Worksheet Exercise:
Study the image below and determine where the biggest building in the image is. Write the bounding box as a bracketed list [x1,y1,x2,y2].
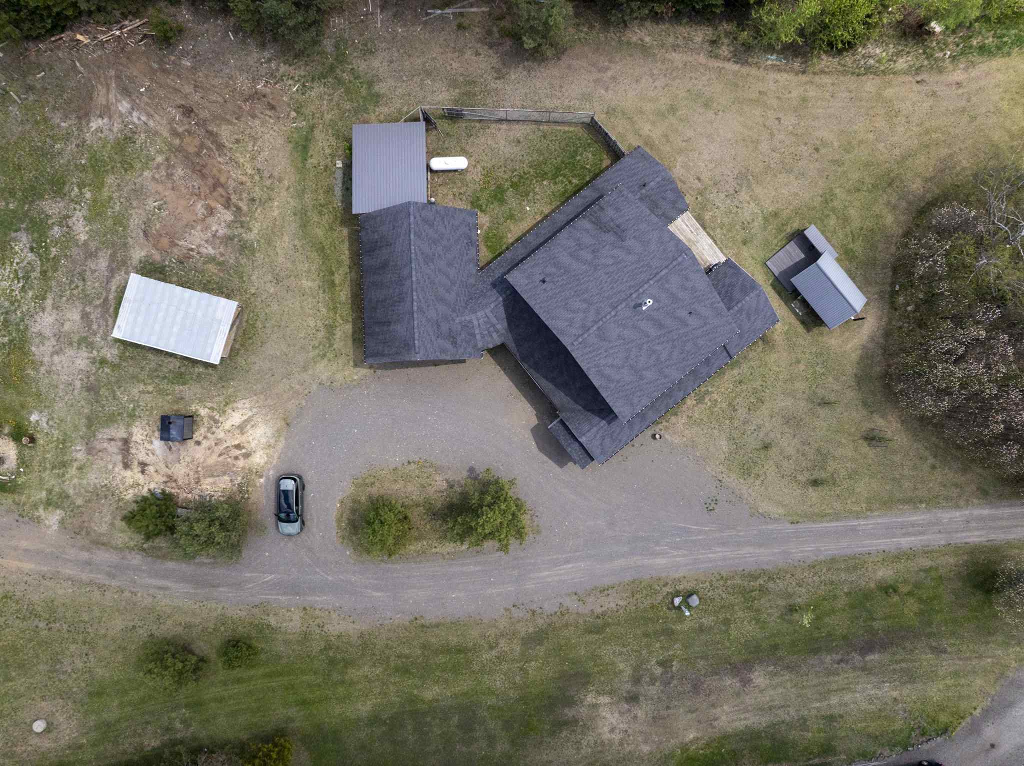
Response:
[358,144,781,469]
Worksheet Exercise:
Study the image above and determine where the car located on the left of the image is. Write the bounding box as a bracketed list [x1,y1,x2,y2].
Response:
[274,473,306,536]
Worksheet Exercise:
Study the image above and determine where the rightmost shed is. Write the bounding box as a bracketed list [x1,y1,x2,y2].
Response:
[789,225,867,330]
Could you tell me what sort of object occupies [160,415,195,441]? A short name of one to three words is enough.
building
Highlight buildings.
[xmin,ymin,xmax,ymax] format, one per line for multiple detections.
[160,415,195,441]
[789,225,867,330]
[112,274,248,364]
[358,144,781,469]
